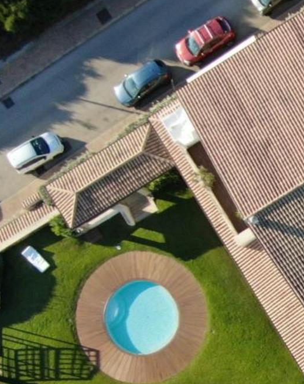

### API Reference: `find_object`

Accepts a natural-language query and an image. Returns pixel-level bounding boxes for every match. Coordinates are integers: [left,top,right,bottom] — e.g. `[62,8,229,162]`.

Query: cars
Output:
[249,0,298,19]
[0,130,69,178]
[113,55,176,111]
[174,13,241,70]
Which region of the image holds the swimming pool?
bottom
